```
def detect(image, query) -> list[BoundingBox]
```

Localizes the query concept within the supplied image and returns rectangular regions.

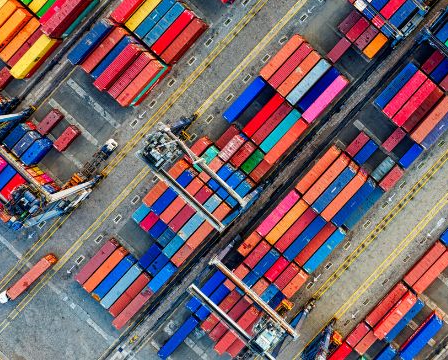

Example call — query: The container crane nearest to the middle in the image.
[135,107,275,234]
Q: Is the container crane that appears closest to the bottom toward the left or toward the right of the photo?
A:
right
